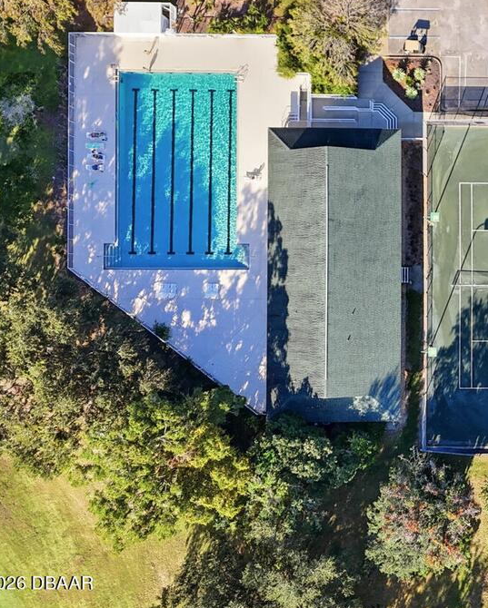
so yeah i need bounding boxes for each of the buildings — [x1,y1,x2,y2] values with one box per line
[113,1,183,37]
[270,128,402,423]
